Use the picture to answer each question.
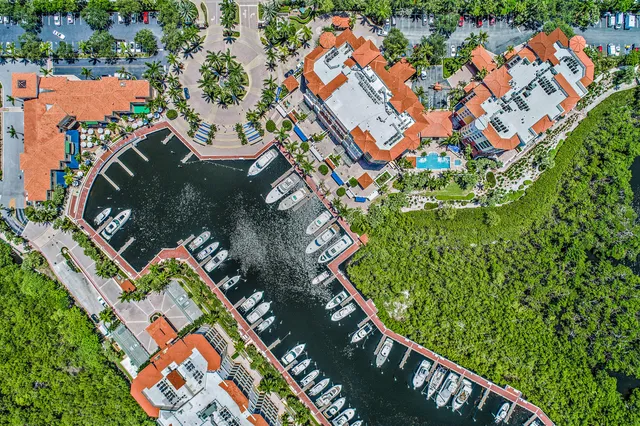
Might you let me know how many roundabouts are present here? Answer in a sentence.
There is 1 roundabout in the image.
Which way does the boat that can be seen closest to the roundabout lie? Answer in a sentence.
The boat that can be seen closest to the roundabout is laid out on a diagonal.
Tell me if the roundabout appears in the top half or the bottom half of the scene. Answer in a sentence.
You can find the roundabout in the top half.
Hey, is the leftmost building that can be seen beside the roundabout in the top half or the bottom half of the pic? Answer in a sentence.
The top half of the photo is where the leftmost building that can be seen beside the roundabout is.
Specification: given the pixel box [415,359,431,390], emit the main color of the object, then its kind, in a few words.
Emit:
white boat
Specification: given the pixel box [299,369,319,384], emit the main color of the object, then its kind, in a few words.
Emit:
white boat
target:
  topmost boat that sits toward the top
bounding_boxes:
[247,148,279,176]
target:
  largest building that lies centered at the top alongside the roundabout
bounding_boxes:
[297,29,429,164]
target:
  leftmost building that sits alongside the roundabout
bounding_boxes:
[12,73,152,201]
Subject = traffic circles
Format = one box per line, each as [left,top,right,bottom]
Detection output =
[178,35,270,127]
